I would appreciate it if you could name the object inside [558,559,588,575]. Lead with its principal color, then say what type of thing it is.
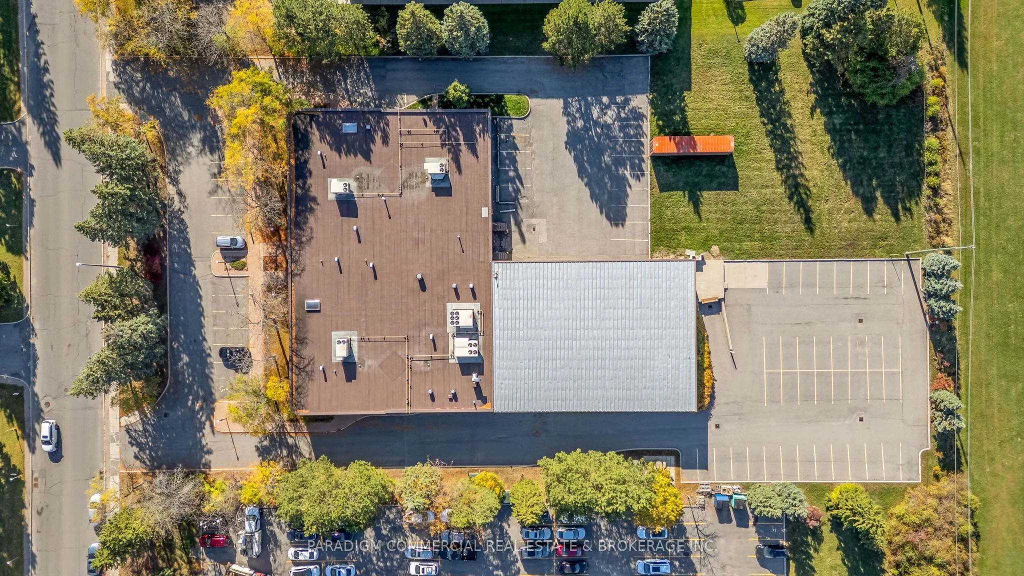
black car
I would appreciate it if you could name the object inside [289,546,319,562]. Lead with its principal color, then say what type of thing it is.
white car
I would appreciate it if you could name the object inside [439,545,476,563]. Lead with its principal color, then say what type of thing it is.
black vehicle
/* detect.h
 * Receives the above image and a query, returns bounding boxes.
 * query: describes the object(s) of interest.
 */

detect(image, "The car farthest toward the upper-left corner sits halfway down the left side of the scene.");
[216,235,246,249]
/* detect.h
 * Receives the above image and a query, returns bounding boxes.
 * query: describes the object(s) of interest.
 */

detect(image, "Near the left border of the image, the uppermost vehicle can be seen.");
[41,421,59,451]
